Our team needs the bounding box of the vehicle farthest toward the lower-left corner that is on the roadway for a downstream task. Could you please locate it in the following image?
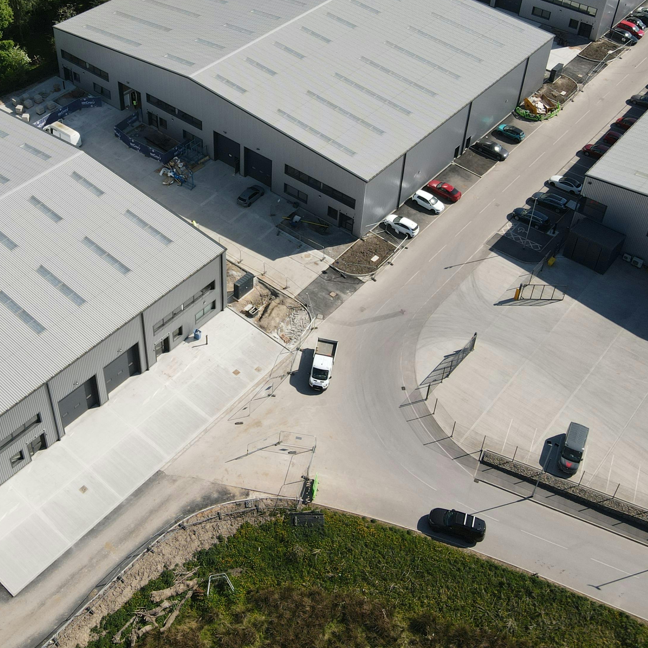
[307,336,338,392]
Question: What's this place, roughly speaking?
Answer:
industrial area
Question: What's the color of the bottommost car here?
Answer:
black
